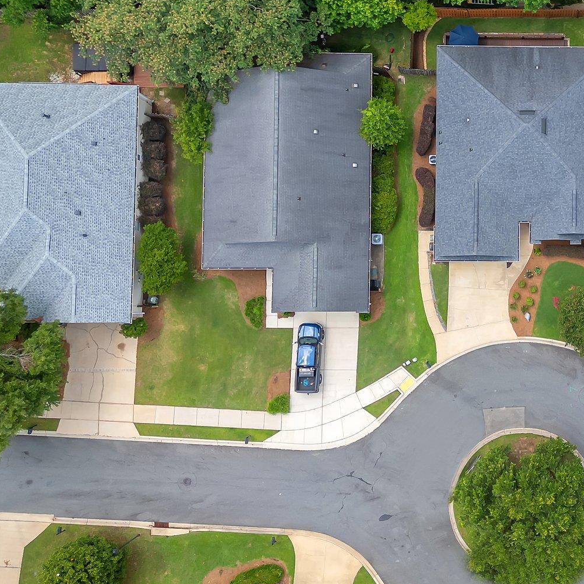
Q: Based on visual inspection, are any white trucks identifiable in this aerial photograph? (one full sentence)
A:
No, the frame has no white truck in it.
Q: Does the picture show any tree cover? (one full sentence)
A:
Yes, the picture does contain tree cover.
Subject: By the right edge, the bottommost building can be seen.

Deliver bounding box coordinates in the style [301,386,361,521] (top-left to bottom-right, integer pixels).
[432,45,584,262]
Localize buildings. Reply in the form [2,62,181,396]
[201,53,378,313]
[432,45,584,262]
[0,82,155,324]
